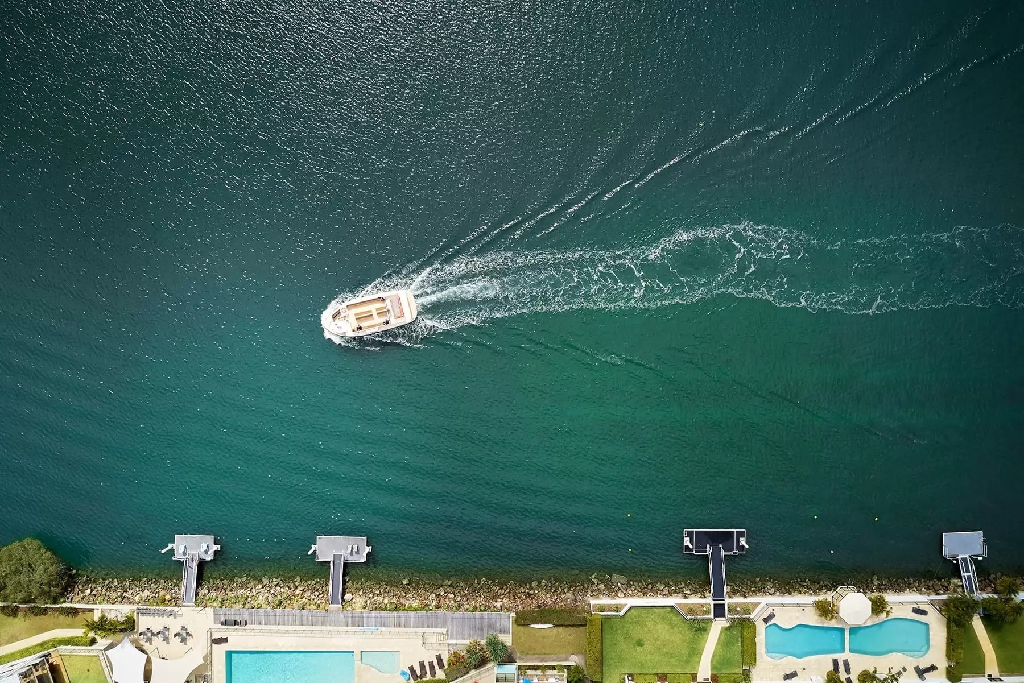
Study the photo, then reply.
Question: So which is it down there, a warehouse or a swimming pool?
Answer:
swimming pool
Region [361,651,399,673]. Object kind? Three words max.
swimming pool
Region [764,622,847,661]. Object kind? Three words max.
swimming pool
